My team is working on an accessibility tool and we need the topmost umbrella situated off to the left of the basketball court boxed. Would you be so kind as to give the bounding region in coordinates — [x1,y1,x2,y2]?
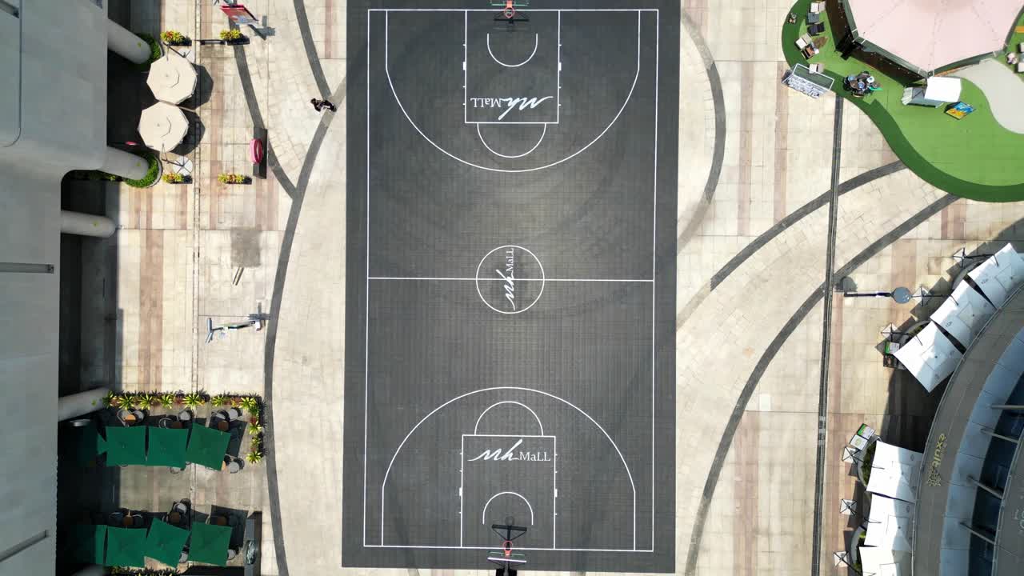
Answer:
[146,39,199,105]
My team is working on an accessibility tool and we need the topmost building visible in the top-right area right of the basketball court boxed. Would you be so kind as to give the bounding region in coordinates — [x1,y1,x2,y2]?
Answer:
[833,0,1024,80]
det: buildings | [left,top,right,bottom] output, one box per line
[0,0,149,576]
[833,0,1024,80]
[909,278,1024,576]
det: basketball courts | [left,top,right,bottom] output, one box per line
[343,0,681,569]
